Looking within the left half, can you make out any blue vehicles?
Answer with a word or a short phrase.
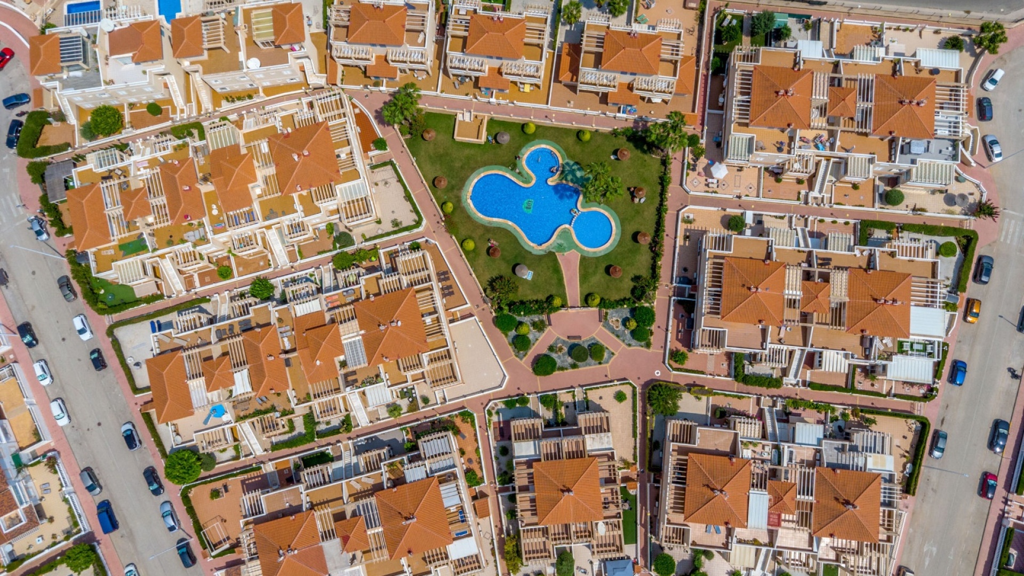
Yes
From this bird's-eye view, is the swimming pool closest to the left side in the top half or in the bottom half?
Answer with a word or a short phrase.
top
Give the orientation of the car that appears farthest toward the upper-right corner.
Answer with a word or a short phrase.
on a diagonal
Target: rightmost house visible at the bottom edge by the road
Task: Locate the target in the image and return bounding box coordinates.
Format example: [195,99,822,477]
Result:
[654,410,904,576]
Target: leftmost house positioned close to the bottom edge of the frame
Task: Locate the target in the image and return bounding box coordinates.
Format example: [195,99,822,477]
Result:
[0,451,49,549]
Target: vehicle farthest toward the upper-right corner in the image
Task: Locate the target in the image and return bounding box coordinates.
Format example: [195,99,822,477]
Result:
[982,68,1005,92]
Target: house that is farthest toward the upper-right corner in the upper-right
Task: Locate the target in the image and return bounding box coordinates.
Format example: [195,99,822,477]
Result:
[718,40,981,196]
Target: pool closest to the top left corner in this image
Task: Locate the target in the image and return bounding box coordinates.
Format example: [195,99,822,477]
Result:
[63,0,103,28]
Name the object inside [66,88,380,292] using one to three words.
house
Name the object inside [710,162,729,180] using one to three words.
umbrella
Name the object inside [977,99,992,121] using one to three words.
car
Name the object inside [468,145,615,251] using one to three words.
swimming pool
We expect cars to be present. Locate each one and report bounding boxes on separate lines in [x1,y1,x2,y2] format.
[80,467,102,495]
[59,276,77,300]
[33,359,53,386]
[162,502,180,531]
[28,216,49,241]
[123,424,141,449]
[144,468,163,494]
[91,349,108,371]
[965,299,982,323]
[975,257,993,283]
[178,539,195,566]
[983,136,1002,161]
[990,422,1008,450]
[6,122,24,147]
[980,473,996,499]
[0,49,15,69]
[950,361,967,386]
[977,99,992,121]
[930,429,947,457]
[75,315,92,340]
[18,322,38,348]
[52,399,70,425]
[5,94,30,108]
[982,68,1005,92]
